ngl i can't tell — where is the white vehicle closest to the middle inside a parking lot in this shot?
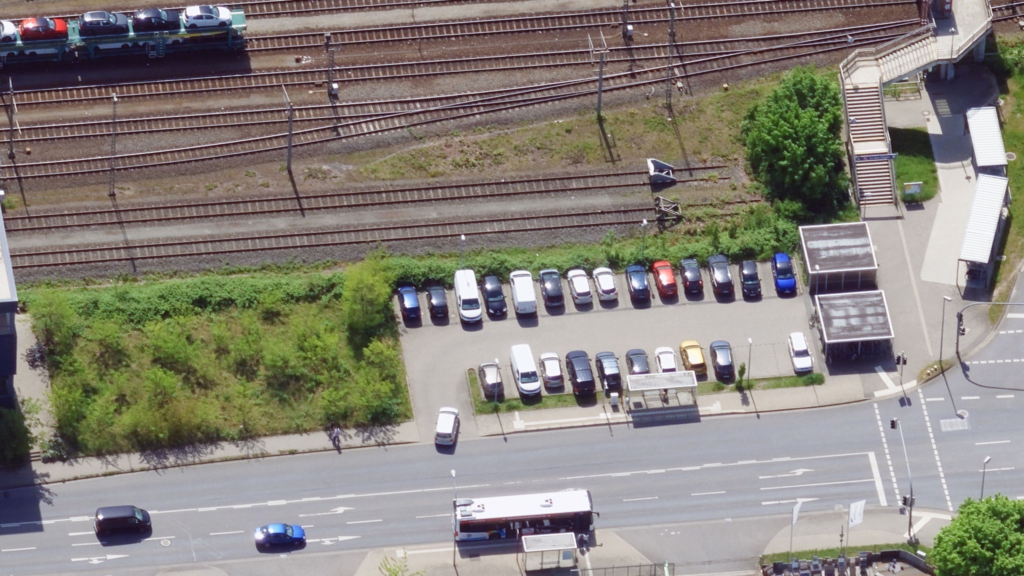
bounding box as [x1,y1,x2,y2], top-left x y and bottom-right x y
[509,274,537,316]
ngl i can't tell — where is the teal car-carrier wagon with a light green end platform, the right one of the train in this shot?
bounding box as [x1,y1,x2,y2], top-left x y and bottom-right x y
[82,3,255,63]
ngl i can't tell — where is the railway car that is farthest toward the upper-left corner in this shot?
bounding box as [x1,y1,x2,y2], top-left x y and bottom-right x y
[0,16,81,69]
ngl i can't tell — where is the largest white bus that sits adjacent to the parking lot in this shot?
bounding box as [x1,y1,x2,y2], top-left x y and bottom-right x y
[452,489,604,541]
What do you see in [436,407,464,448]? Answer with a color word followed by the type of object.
white car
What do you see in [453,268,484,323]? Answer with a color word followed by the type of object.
white vehicle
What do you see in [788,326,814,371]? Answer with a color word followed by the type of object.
white car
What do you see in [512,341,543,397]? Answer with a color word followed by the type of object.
white vehicle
